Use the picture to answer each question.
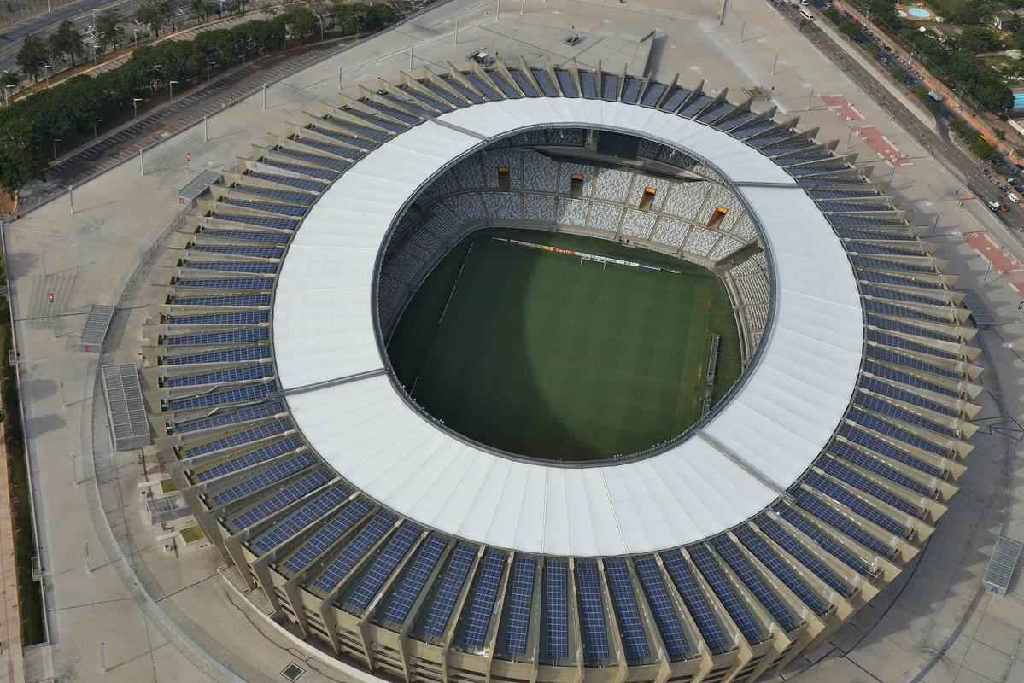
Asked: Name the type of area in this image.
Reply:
sports ground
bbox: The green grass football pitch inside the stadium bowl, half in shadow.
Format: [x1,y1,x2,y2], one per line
[386,224,742,463]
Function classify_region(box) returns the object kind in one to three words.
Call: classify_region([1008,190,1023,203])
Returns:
vehicle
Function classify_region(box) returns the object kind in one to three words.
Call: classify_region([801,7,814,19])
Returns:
vehicle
